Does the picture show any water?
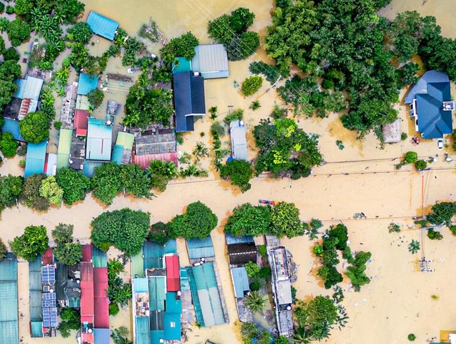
Yes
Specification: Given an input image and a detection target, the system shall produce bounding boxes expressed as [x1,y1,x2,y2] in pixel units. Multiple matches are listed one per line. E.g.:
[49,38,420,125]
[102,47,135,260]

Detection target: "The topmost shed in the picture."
[86,11,118,42]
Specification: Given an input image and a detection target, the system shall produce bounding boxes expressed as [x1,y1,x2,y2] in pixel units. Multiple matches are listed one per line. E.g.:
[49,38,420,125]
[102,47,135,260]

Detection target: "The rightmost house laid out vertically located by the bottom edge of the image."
[262,235,297,336]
